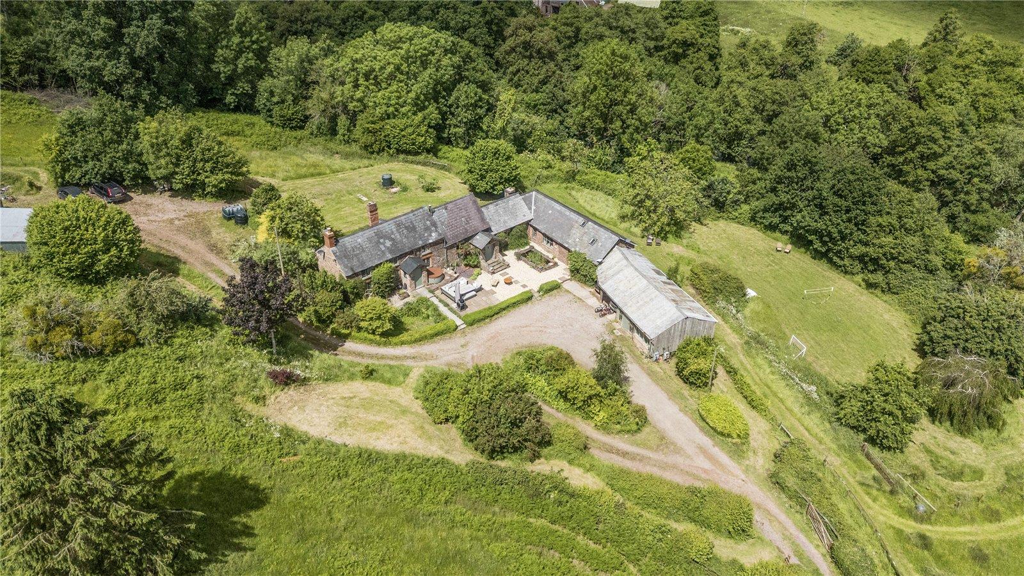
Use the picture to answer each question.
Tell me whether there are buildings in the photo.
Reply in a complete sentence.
Yes, I can see a building in this picture.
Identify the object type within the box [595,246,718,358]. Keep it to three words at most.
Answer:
barn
